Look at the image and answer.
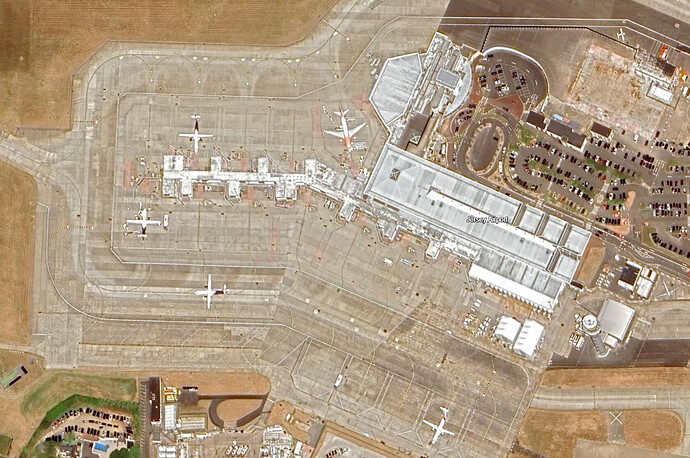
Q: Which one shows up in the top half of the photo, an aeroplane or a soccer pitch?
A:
aeroplane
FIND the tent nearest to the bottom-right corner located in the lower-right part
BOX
[513,319,544,358]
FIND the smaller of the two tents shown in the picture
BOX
[495,316,522,343]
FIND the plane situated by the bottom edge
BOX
[422,407,453,443]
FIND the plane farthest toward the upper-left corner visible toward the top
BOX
[179,114,214,153]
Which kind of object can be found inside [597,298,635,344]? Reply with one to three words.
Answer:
hangar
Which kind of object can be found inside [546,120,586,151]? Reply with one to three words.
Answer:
building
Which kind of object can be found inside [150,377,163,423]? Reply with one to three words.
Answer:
shed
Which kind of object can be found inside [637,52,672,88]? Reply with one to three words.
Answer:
building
